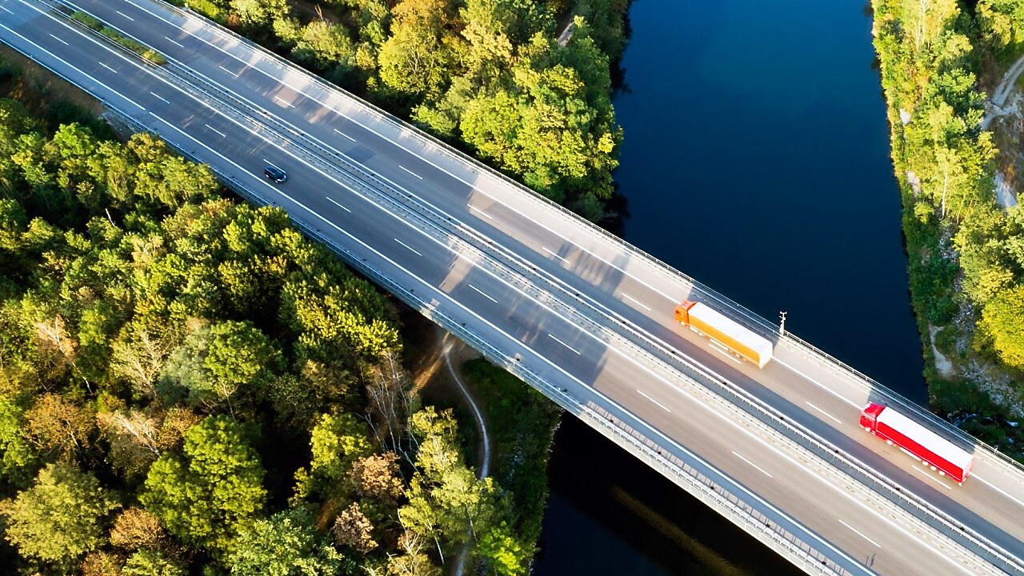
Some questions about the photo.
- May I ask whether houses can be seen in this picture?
No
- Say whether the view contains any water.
Yes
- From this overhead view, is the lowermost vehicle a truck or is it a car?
truck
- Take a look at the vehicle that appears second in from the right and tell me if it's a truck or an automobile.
truck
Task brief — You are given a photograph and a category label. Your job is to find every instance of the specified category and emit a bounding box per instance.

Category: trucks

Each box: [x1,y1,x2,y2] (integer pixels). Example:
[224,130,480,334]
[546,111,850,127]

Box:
[859,402,973,483]
[675,300,771,367]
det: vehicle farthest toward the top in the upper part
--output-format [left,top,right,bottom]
[264,165,287,183]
